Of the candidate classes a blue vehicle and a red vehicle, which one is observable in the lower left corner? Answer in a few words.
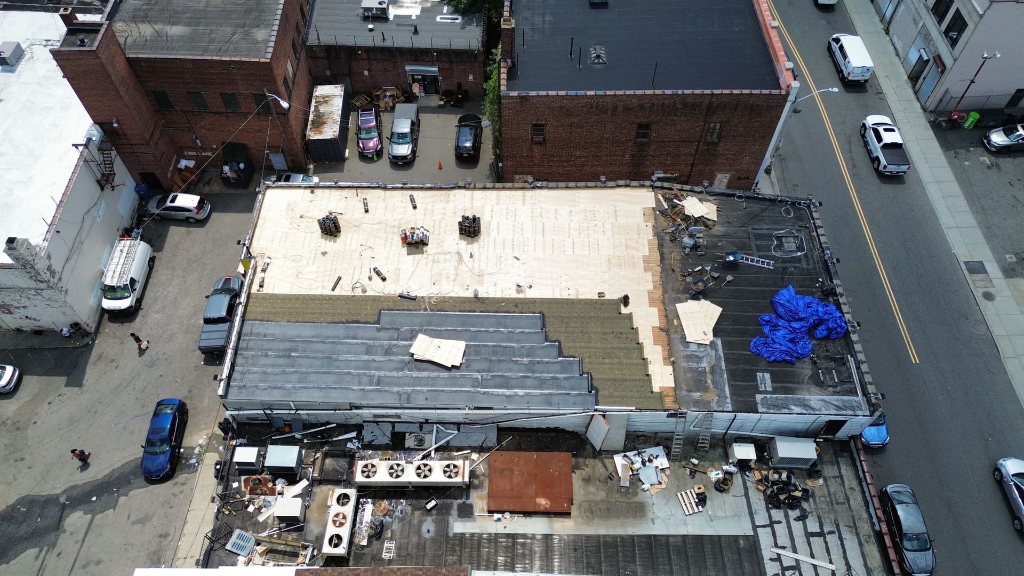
blue vehicle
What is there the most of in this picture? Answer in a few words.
buildings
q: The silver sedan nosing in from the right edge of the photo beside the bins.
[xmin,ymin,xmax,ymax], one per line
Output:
[979,127,1024,156]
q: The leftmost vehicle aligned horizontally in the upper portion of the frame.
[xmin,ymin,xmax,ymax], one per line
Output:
[145,193,216,226]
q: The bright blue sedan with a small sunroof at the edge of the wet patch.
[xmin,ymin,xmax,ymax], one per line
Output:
[138,397,191,483]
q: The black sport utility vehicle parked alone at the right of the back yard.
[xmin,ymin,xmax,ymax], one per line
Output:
[454,118,483,165]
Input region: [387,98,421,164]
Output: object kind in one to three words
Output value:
truck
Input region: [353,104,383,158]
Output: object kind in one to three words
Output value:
car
